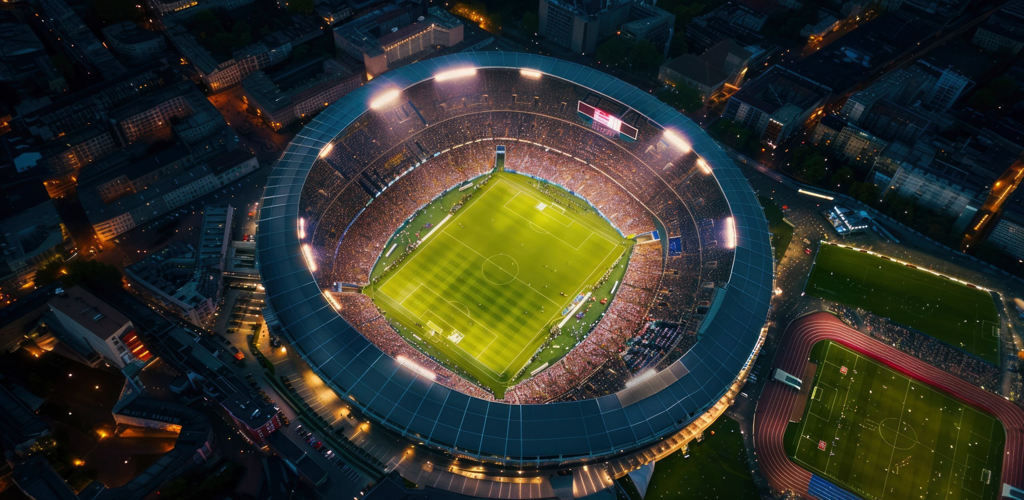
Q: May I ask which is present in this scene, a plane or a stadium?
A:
stadium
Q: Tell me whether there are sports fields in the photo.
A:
Yes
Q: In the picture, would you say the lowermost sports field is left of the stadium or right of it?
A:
right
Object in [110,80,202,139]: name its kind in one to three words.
building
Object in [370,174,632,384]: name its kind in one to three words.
sports field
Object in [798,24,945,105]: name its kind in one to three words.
building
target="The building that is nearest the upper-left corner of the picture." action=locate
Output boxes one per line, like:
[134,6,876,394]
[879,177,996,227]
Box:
[0,22,57,69]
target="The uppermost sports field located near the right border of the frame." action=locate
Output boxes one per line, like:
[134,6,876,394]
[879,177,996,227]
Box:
[805,244,1000,363]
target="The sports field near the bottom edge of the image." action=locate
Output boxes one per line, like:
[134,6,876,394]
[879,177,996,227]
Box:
[794,341,996,500]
